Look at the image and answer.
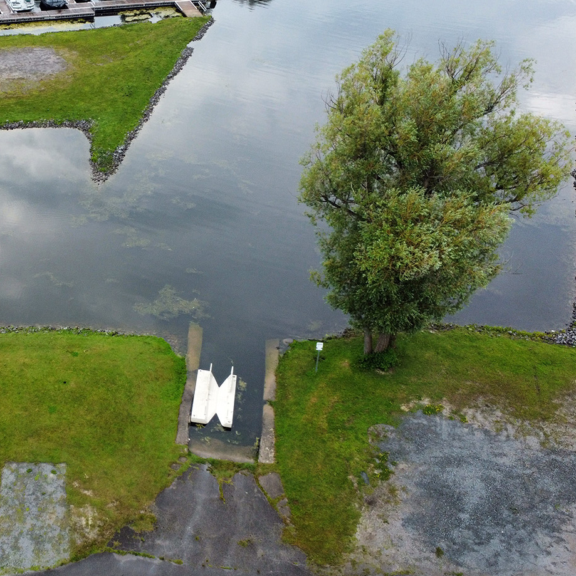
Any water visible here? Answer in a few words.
Yes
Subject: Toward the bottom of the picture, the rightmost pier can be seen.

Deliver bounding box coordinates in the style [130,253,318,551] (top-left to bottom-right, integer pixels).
[221,375,236,427]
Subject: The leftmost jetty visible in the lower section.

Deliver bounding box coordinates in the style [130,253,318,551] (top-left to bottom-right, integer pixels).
[190,370,209,427]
